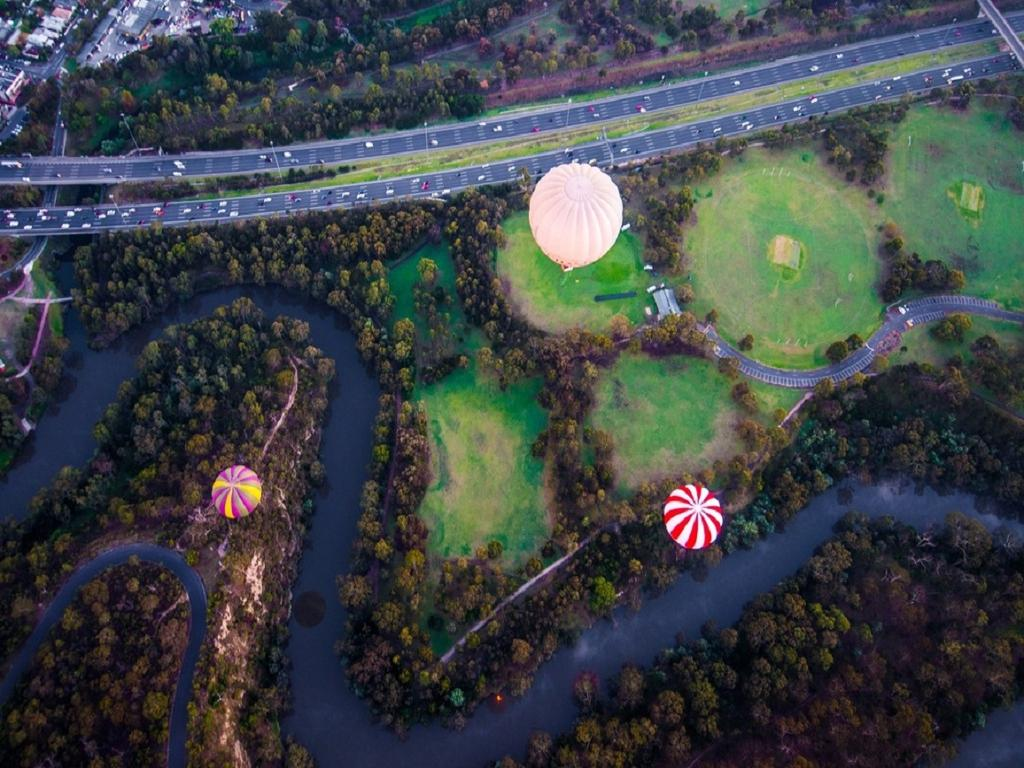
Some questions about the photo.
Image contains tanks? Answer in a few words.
No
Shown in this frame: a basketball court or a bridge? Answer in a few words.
bridge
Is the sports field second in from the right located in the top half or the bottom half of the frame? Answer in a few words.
top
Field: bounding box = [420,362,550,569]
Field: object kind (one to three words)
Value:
sports field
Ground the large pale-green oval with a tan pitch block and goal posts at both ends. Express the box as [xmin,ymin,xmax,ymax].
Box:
[686,147,882,357]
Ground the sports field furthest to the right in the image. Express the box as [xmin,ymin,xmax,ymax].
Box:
[880,103,1024,300]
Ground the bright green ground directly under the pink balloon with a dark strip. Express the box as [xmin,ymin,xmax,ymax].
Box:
[497,213,648,334]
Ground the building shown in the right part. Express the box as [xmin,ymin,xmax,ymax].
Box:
[651,289,681,318]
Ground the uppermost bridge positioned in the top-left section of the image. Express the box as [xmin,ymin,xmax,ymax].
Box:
[0,150,208,190]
